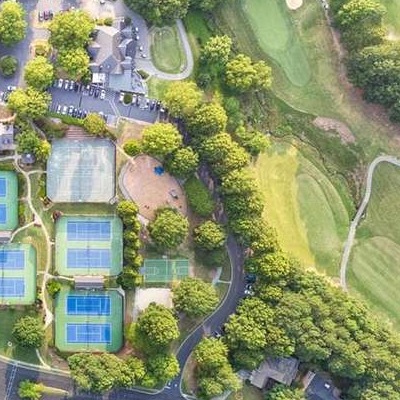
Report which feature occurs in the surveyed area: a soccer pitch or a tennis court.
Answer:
tennis court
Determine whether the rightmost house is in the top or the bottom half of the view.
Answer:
bottom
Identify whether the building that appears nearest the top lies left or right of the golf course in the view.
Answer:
to its left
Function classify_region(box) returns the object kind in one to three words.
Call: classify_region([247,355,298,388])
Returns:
house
